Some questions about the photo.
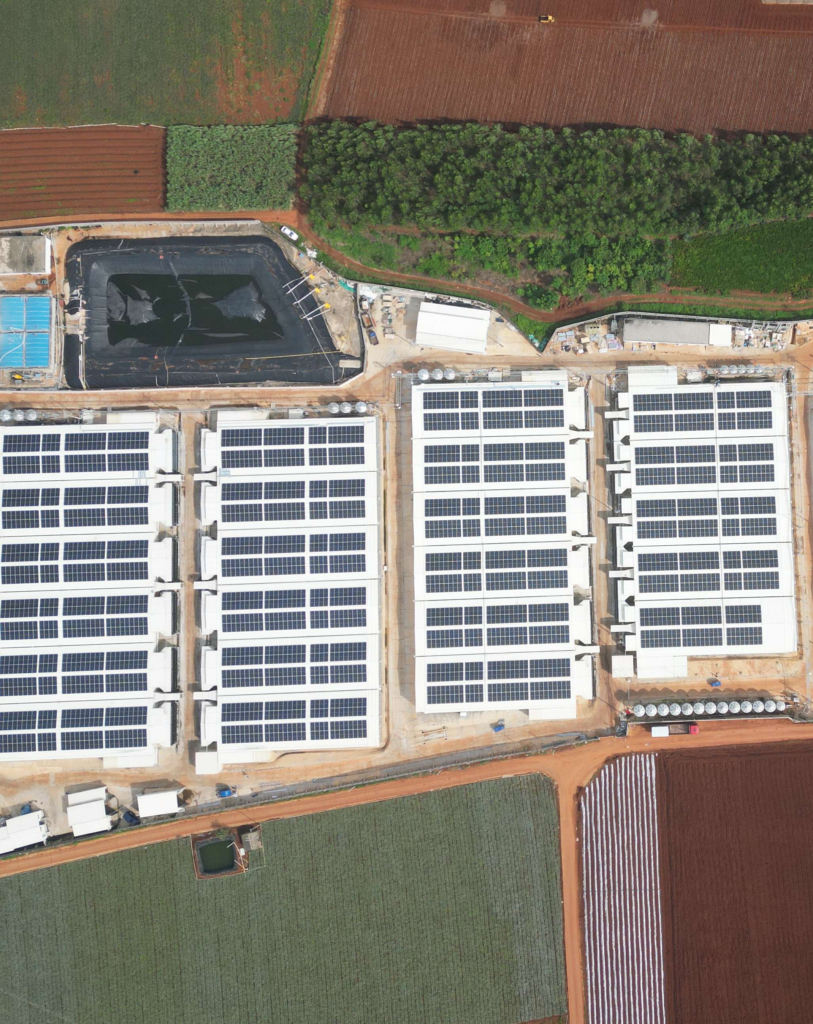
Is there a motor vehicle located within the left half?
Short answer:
Yes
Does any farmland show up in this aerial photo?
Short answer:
Yes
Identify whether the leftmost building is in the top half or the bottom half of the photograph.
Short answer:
top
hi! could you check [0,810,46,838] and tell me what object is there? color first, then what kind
white truck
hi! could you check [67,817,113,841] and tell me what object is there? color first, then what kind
white truck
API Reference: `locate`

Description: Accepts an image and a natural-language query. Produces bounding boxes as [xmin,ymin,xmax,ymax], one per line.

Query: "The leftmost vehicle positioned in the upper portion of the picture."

[280,225,298,240]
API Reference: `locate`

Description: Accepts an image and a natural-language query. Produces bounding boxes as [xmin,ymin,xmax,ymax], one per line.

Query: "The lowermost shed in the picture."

[241,828,262,851]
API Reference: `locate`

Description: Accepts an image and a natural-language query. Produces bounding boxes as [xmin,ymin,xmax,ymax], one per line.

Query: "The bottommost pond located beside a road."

[194,833,242,876]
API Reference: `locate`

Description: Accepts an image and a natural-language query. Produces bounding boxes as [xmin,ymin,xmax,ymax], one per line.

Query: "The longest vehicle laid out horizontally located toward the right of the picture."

[653,726,701,739]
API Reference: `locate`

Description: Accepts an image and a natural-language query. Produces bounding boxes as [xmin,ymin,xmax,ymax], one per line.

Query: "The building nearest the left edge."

[0,236,51,277]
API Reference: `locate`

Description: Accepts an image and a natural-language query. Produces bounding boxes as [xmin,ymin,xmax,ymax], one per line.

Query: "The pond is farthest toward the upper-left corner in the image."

[63,234,362,390]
